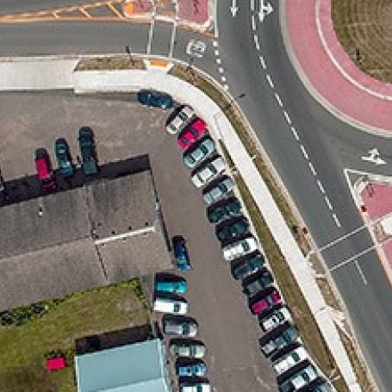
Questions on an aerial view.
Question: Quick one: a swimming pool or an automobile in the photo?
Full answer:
This aerial view contains an automobile.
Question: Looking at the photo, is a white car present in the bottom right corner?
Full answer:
Yes, a white car can be seen in the bottom right corner.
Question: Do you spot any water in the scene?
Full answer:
No, the picture contains no water.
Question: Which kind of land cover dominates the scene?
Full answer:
The scene is dominated by paved ground.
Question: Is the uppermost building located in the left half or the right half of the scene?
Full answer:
The uppermost building sits on the left side.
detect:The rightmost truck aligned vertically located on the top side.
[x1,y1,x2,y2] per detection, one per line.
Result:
[76,128,98,176]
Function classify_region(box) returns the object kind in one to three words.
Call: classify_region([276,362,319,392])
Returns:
truck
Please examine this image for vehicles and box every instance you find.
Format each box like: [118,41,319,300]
[177,379,214,392]
[137,89,172,109]
[163,318,197,335]
[303,381,327,392]
[247,288,283,314]
[174,118,208,151]
[214,218,250,241]
[169,341,205,359]
[176,360,208,377]
[235,268,279,299]
[220,237,260,261]
[206,197,241,222]
[53,140,74,177]
[152,296,187,314]
[191,157,225,185]
[33,152,56,188]
[229,254,265,279]
[170,236,190,270]
[257,306,292,332]
[181,138,215,167]
[76,128,98,176]
[257,323,302,355]
[155,279,186,295]
[271,346,308,374]
[200,177,235,204]
[163,103,196,136]
[276,362,319,392]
